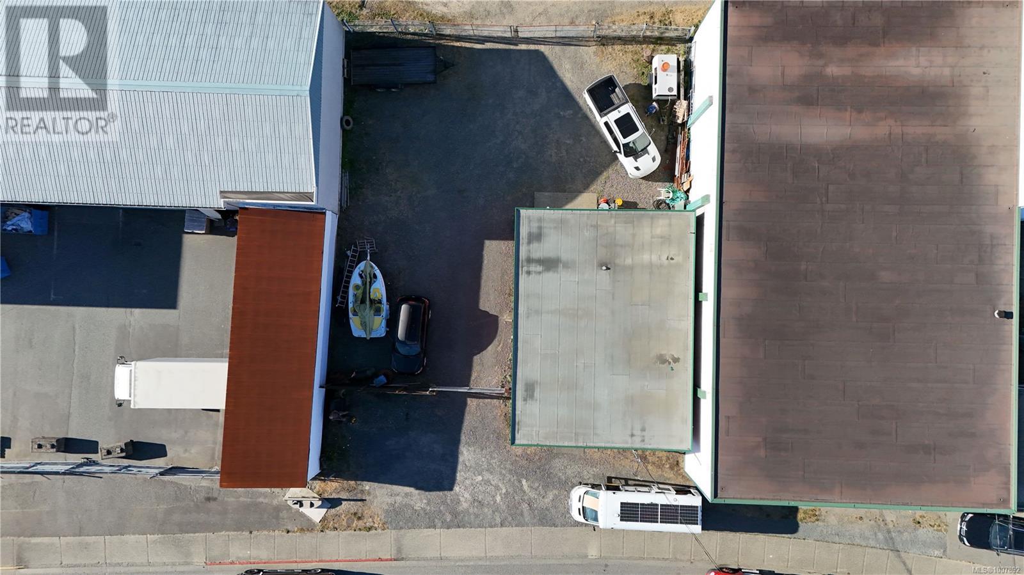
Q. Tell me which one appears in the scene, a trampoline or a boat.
boat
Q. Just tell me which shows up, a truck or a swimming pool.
truck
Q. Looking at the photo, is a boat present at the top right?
No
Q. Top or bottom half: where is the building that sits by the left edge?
top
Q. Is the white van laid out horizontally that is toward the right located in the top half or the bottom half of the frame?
bottom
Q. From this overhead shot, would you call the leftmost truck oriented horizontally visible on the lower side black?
No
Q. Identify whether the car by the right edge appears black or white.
black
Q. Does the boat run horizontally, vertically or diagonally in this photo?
vertically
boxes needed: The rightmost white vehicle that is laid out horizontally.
[570,470,702,531]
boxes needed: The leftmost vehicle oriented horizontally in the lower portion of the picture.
[117,354,229,410]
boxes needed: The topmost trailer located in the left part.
[349,44,460,92]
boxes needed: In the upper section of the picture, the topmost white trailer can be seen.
[645,55,678,118]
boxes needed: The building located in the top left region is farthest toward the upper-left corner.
[0,0,344,213]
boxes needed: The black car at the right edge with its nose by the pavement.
[955,510,1024,556]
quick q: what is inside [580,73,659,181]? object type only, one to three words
truck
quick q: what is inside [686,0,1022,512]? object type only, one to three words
warehouse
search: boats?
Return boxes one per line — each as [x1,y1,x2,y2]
[346,259,388,342]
